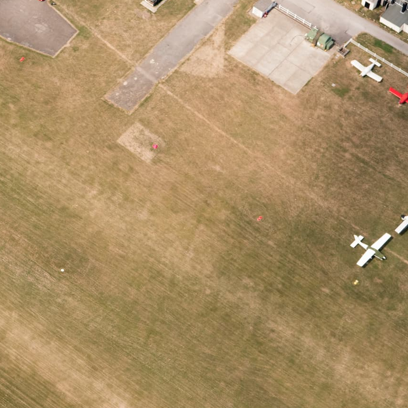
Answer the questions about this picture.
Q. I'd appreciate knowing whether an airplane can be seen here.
Yes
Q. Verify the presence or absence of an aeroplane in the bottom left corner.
No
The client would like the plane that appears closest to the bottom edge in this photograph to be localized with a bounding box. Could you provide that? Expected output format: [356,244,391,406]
[351,233,392,268]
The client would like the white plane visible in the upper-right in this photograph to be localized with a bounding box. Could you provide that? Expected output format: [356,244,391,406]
[350,54,386,82]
